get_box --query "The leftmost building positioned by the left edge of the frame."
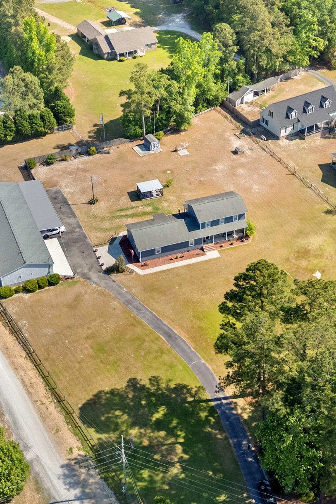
[0,180,65,285]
